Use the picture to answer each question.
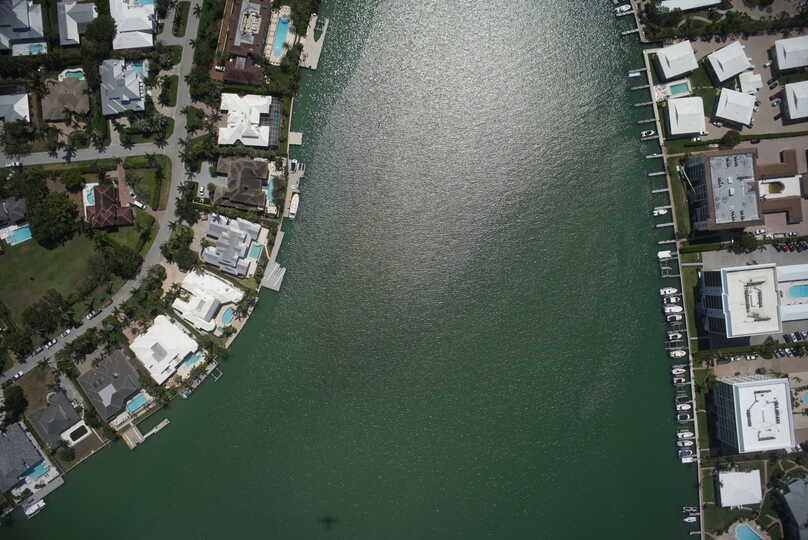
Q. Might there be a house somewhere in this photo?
Yes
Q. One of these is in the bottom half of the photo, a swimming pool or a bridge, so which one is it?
swimming pool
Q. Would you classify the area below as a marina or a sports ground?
marina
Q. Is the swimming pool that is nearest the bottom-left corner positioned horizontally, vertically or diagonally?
diagonally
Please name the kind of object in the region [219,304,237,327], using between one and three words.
swimming pool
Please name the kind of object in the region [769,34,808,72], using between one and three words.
building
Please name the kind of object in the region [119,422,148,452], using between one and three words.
pier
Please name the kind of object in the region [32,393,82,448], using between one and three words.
house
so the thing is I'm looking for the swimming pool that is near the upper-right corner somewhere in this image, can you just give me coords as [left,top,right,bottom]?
[670,81,690,96]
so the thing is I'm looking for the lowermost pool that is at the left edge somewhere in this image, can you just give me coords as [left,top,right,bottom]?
[26,461,50,482]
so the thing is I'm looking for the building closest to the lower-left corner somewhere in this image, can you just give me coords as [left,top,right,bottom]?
[0,422,47,491]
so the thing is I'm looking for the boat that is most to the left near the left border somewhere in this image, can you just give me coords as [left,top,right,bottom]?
[25,499,46,514]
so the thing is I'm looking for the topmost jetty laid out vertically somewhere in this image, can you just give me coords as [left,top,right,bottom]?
[299,13,329,69]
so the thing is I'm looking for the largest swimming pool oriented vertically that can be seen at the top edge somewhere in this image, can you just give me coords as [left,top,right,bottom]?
[271,14,290,57]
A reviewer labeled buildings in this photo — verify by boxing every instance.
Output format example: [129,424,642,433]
[653,40,698,81]
[0,94,32,121]
[101,60,147,115]
[172,272,245,332]
[703,41,753,84]
[689,147,767,231]
[58,1,99,47]
[656,0,721,14]
[0,197,28,222]
[703,263,784,339]
[0,0,45,49]
[664,97,705,136]
[710,88,756,126]
[775,467,808,540]
[130,315,200,384]
[78,351,143,419]
[218,93,271,146]
[200,212,260,276]
[32,393,82,448]
[769,34,808,72]
[214,158,268,212]
[714,373,796,454]
[110,0,155,51]
[222,0,272,88]
[92,184,135,227]
[713,466,762,507]
[0,422,47,491]
[778,81,808,120]
[43,77,90,121]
